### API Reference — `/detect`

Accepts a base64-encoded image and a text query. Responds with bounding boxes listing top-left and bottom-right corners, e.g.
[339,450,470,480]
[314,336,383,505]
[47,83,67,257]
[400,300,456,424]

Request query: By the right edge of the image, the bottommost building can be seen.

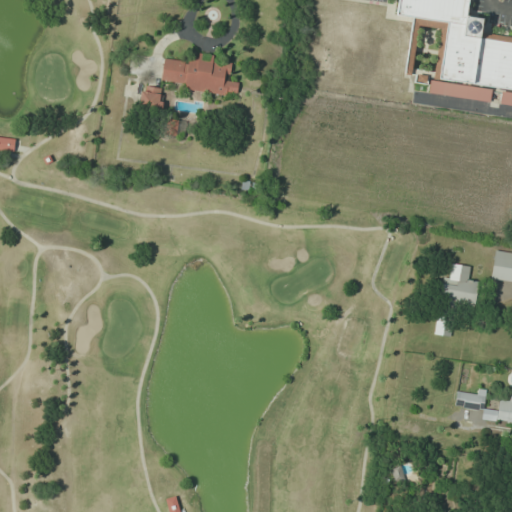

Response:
[456,388,512,422]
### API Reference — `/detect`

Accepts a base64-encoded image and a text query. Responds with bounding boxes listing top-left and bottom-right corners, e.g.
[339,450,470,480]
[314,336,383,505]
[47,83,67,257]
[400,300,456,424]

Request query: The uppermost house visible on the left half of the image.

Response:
[162,52,240,96]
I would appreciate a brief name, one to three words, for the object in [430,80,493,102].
building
